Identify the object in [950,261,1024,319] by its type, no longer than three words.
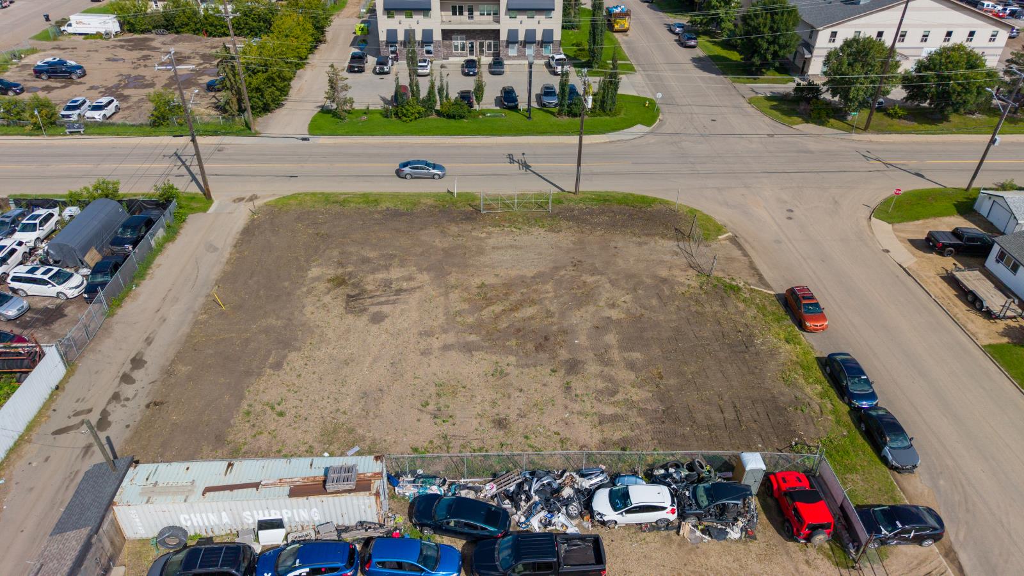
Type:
trailer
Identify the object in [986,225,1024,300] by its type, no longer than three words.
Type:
house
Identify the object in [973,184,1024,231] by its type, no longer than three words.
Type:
building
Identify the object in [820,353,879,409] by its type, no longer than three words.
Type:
car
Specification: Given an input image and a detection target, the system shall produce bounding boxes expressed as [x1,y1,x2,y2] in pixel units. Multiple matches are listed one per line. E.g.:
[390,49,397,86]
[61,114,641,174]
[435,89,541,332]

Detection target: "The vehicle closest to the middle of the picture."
[396,160,445,180]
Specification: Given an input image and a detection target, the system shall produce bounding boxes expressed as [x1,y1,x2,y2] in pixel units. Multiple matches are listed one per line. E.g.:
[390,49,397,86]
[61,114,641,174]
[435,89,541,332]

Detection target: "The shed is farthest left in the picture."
[27,456,137,576]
